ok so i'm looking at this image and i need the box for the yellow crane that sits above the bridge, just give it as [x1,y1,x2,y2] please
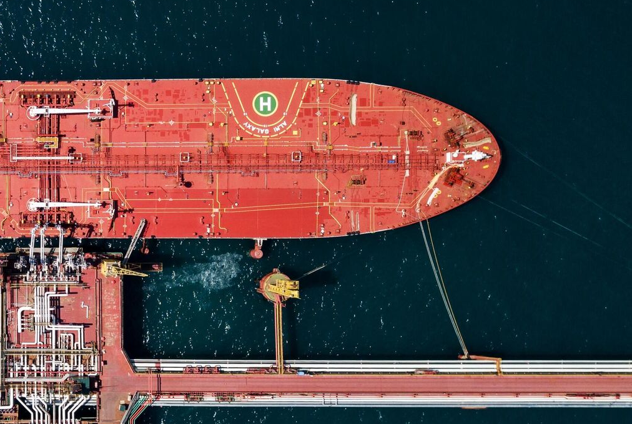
[102,260,149,278]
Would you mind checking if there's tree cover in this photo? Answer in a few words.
No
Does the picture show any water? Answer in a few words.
Yes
